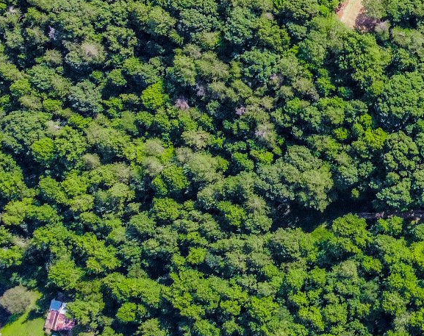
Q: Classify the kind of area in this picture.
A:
forest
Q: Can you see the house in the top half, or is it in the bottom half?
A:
bottom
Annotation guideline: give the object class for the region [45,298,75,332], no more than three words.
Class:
house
